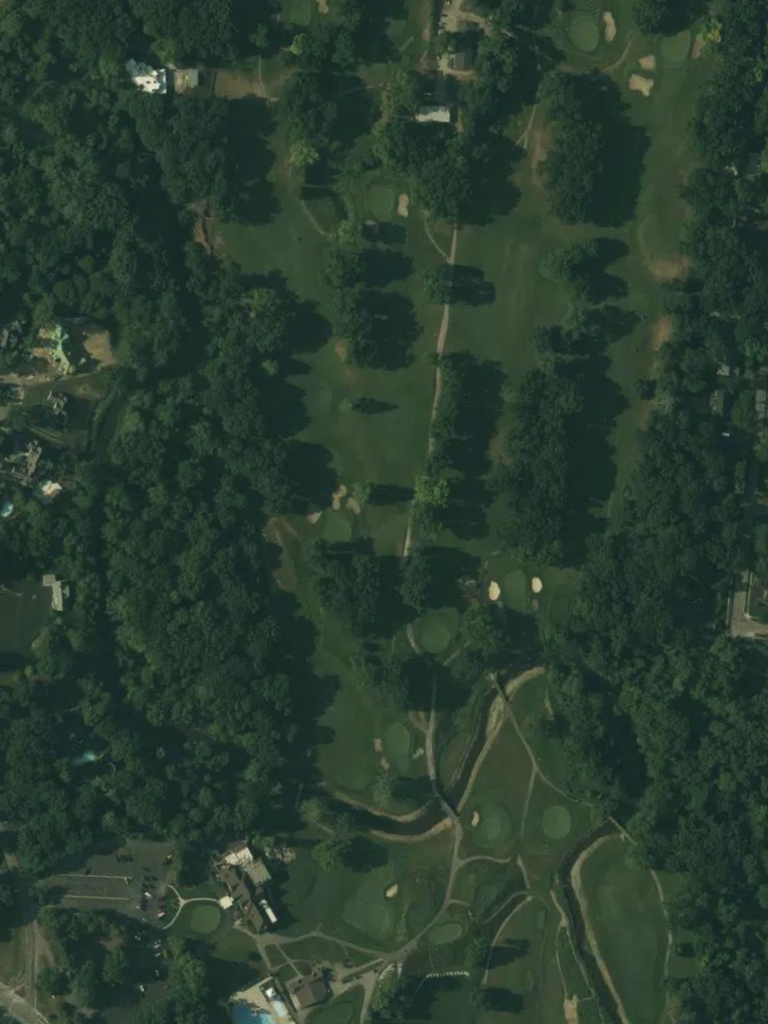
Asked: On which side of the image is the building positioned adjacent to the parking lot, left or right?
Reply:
left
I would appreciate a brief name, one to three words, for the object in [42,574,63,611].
house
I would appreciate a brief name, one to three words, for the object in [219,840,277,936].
building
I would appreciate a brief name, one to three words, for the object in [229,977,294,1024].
swimming pool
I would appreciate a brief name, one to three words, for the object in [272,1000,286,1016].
swimming pool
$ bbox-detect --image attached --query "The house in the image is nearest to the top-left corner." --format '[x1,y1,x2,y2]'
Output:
[131,61,166,94]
